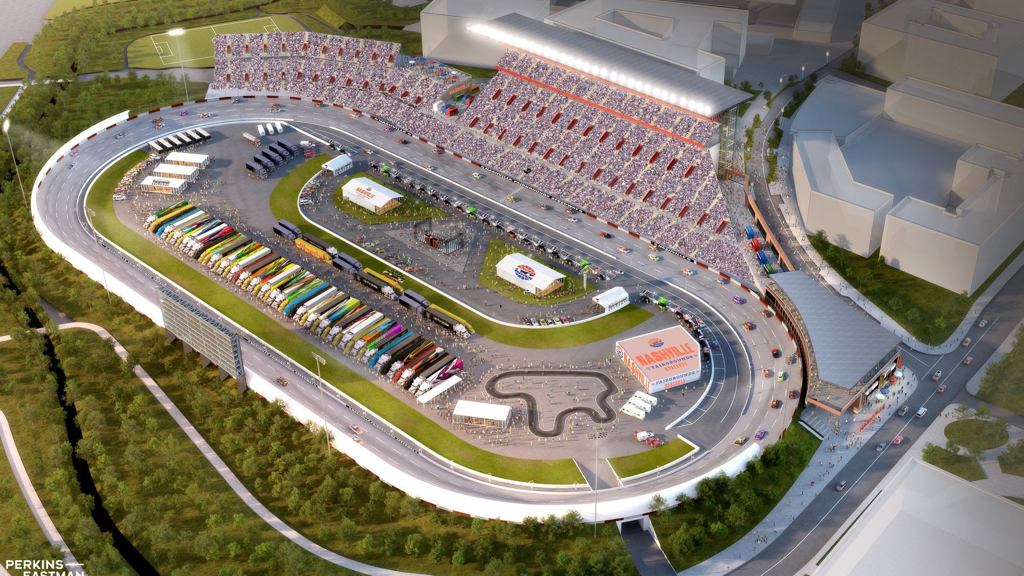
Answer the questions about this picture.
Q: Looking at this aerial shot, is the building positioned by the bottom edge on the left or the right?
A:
right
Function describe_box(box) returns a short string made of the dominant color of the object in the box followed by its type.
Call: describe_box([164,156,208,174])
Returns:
white tent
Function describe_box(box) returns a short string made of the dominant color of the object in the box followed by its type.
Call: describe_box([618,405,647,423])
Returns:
white camper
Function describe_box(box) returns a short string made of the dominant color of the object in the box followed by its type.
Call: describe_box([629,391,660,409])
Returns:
white camper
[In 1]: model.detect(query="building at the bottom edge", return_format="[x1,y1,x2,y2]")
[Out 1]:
[808,455,1024,576]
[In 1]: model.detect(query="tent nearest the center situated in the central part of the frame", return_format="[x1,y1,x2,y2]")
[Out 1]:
[494,251,566,297]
